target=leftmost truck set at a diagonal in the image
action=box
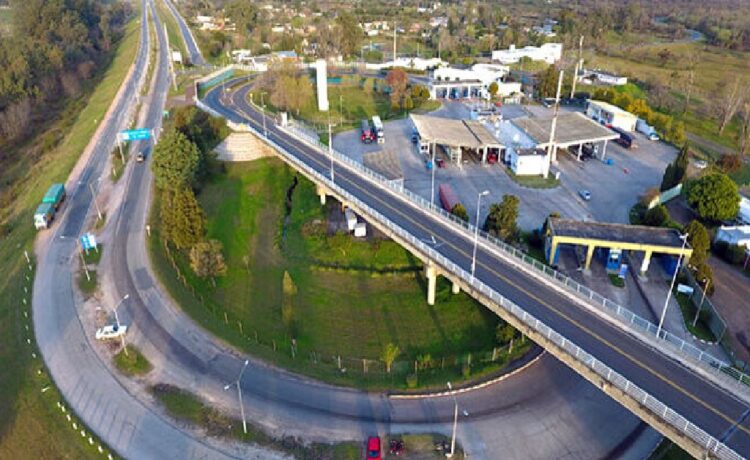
[25,174,64,229]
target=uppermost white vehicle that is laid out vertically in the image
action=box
[373,118,385,140]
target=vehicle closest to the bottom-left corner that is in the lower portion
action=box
[92,324,128,339]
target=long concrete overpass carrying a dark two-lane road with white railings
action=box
[198,116,750,460]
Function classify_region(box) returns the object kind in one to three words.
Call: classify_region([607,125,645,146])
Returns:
truck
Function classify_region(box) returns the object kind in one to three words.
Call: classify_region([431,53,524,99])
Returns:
building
